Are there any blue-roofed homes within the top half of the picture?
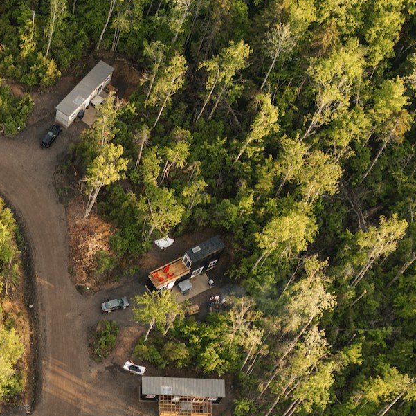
No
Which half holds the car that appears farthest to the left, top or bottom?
top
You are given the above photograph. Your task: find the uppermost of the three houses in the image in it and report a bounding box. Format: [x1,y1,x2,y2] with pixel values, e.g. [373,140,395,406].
[54,60,114,128]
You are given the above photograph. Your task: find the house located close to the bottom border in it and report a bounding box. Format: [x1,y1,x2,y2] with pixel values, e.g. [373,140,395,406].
[139,377,225,406]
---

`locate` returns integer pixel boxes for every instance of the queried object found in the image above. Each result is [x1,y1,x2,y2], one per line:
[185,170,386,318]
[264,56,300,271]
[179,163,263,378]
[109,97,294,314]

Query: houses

[139,377,225,406]
[146,235,225,294]
[54,60,114,128]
